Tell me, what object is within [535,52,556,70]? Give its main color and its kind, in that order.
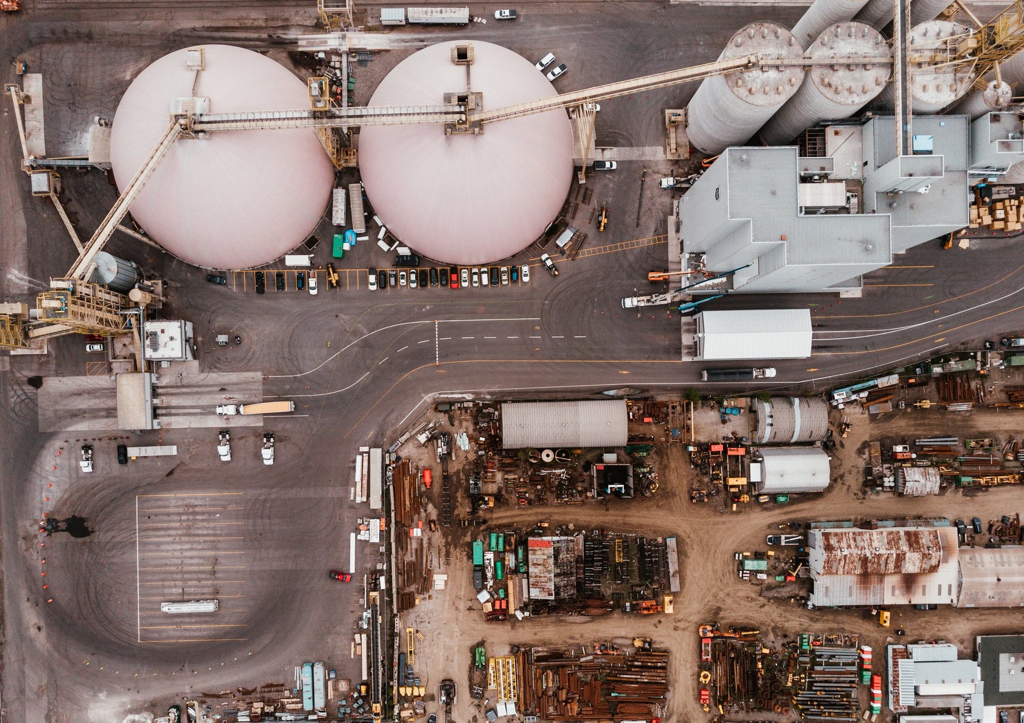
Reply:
white vehicle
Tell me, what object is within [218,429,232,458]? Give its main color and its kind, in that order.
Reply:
white vehicle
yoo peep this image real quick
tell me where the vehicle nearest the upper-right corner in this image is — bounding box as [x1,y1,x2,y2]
[941,234,953,252]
